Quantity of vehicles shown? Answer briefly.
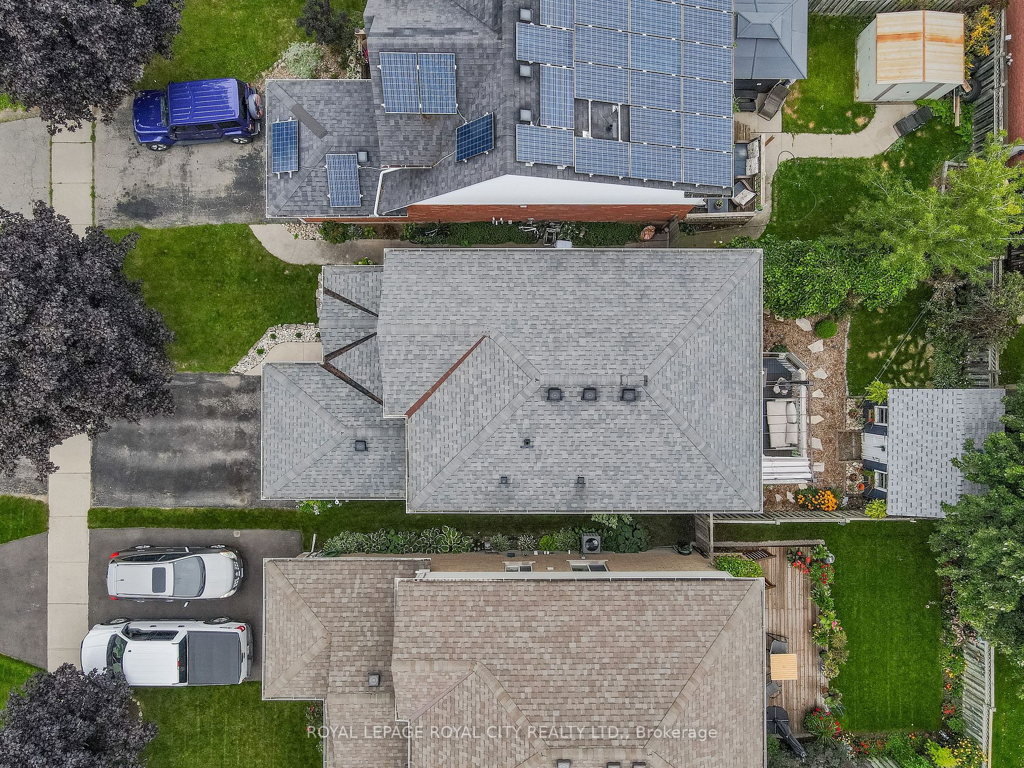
3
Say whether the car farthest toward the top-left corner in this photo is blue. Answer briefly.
Yes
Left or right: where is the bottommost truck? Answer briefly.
left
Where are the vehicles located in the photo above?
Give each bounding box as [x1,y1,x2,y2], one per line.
[103,543,245,609]
[130,78,260,151]
[81,614,254,692]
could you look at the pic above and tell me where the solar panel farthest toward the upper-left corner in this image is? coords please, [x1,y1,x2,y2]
[270,119,296,172]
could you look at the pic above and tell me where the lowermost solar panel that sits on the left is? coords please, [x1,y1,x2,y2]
[325,154,360,207]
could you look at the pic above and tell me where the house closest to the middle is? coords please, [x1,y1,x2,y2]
[261,248,764,514]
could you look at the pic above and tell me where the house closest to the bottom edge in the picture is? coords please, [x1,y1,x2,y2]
[262,553,765,768]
